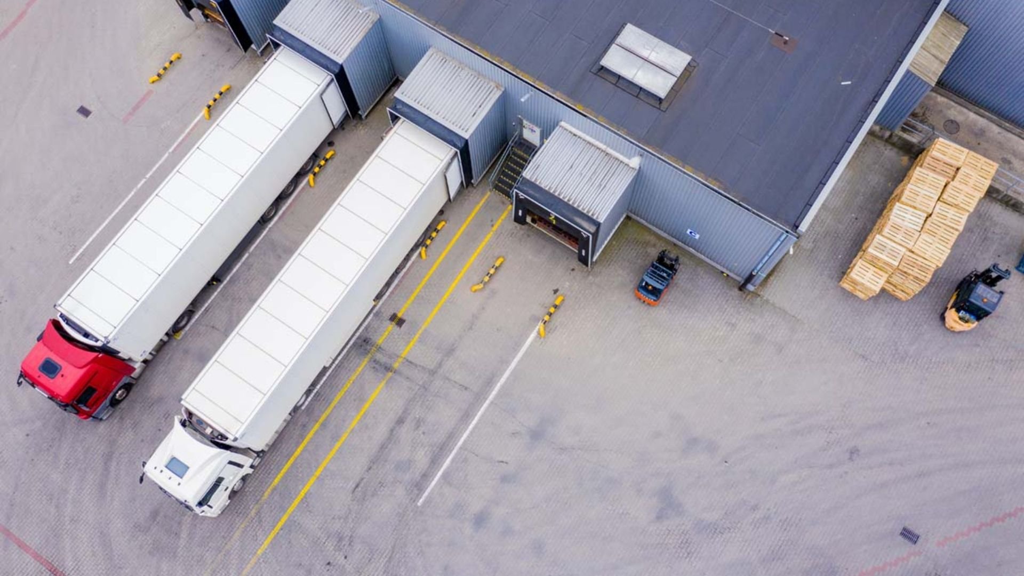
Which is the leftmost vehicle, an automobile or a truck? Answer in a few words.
truck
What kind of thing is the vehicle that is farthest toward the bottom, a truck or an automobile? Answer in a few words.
truck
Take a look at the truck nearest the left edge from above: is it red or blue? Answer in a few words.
red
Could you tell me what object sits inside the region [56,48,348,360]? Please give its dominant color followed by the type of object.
white trailer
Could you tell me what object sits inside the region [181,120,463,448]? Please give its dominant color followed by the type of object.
white trailer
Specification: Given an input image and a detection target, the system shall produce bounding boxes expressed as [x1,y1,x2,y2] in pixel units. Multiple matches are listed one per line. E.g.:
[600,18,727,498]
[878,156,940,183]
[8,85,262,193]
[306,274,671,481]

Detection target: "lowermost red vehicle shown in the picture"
[22,319,157,425]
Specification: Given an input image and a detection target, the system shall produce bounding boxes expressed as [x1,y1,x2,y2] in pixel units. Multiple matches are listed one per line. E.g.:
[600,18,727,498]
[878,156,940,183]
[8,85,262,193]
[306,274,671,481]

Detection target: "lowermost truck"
[142,393,306,520]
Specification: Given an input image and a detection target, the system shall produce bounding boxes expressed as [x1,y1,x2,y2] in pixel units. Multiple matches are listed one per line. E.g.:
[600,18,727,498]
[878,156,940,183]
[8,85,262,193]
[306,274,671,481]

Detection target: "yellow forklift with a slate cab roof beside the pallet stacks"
[937,263,1012,336]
